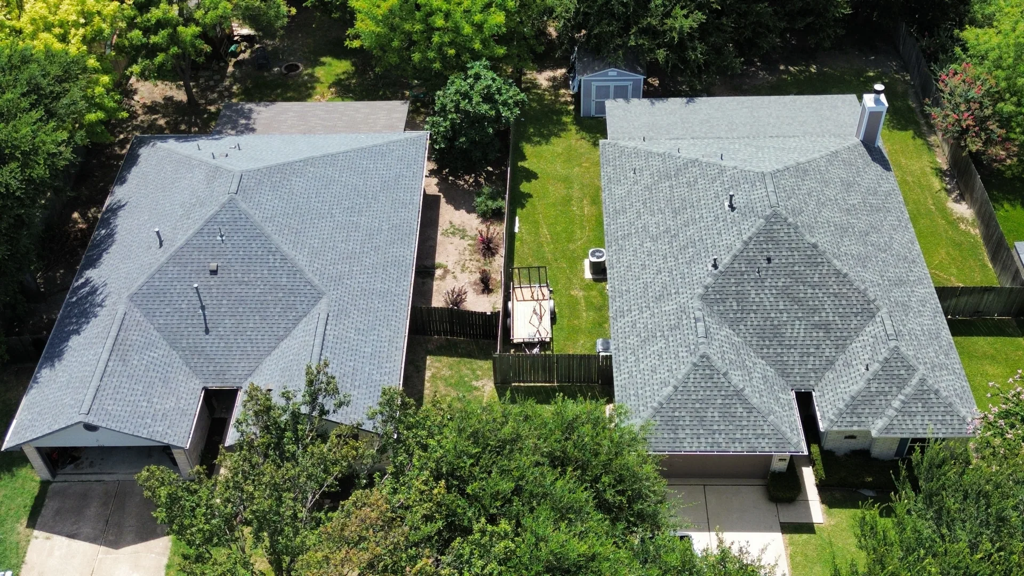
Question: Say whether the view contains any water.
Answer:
No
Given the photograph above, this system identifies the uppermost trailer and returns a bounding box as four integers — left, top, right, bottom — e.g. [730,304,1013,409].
[505,266,559,361]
